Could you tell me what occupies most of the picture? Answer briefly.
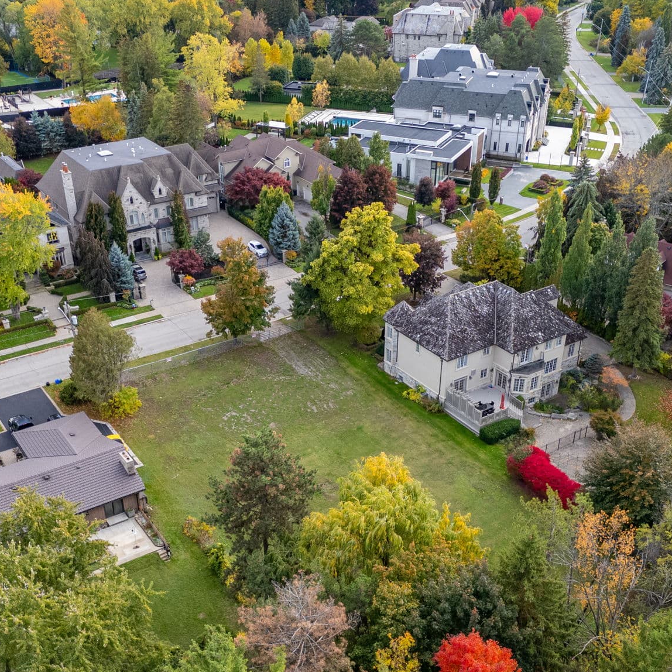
trees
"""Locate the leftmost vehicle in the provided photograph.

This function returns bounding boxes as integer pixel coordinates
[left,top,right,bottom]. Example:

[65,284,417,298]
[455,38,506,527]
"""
[8,411,30,433]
